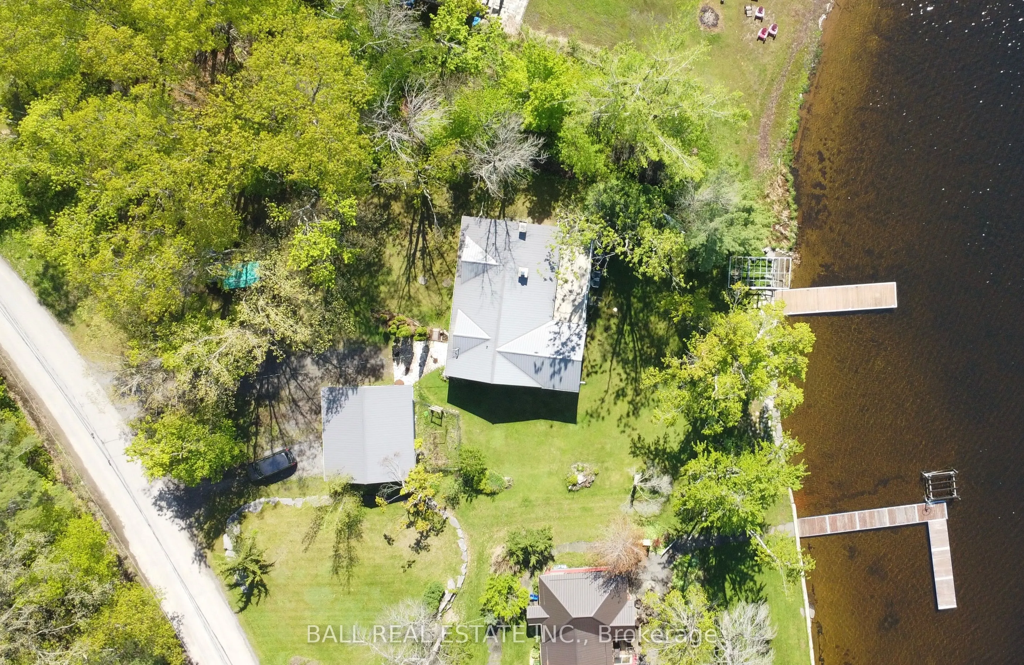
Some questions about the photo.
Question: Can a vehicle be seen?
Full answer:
Yes, you can see a vehicle in this photo.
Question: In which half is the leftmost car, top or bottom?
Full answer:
It is in the bottom half that the leftmost car appears.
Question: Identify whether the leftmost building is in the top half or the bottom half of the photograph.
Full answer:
The leftmost building sits in the bottom half of the picture.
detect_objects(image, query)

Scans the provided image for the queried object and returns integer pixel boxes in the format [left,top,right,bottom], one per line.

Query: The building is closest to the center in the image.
[443,217,594,395]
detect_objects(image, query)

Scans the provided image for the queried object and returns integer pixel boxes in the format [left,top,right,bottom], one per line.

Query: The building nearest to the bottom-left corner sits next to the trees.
[320,383,417,486]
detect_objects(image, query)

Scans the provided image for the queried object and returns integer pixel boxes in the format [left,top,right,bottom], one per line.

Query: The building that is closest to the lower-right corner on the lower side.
[527,567,637,665]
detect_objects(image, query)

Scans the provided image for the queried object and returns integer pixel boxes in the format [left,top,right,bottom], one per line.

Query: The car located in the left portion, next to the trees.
[245,452,296,486]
